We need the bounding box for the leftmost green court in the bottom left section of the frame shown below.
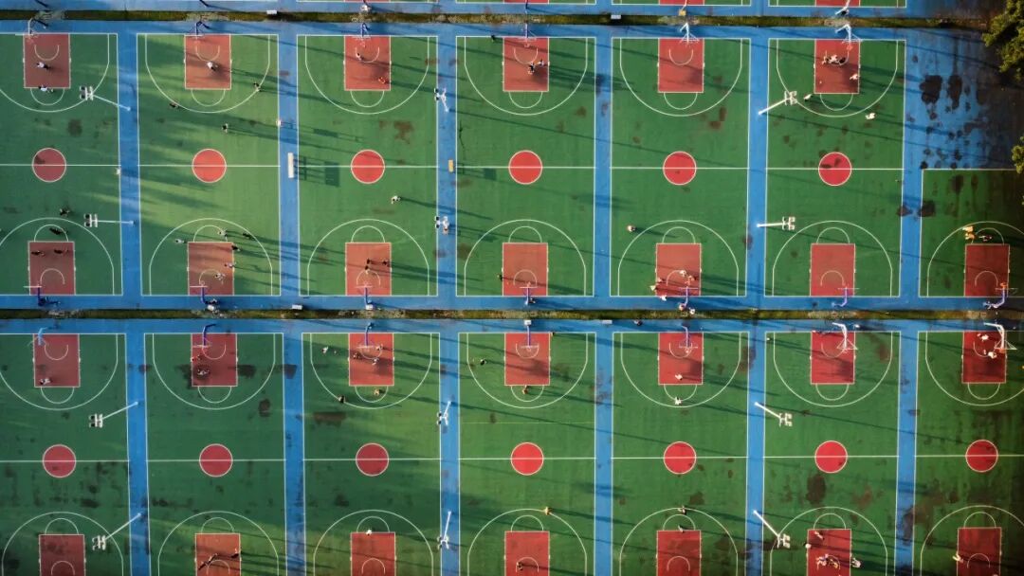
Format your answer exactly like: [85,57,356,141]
[0,333,131,576]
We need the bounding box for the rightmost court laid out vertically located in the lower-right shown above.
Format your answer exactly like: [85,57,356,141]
[912,331,1024,576]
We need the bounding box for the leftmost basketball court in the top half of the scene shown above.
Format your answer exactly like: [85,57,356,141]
[0,32,123,296]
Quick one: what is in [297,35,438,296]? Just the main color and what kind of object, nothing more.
green basketball court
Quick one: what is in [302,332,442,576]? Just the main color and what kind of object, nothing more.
green basketball court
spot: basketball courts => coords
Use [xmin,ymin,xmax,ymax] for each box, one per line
[136,33,281,296]
[609,37,751,297]
[302,332,442,576]
[769,0,907,7]
[144,333,287,576]
[611,331,749,576]
[612,0,751,6]
[0,333,131,576]
[919,169,1024,297]
[764,38,906,297]
[912,331,1024,576]
[297,35,438,296]
[0,32,123,296]
[456,36,596,297]
[762,331,901,576]
[458,332,596,576]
